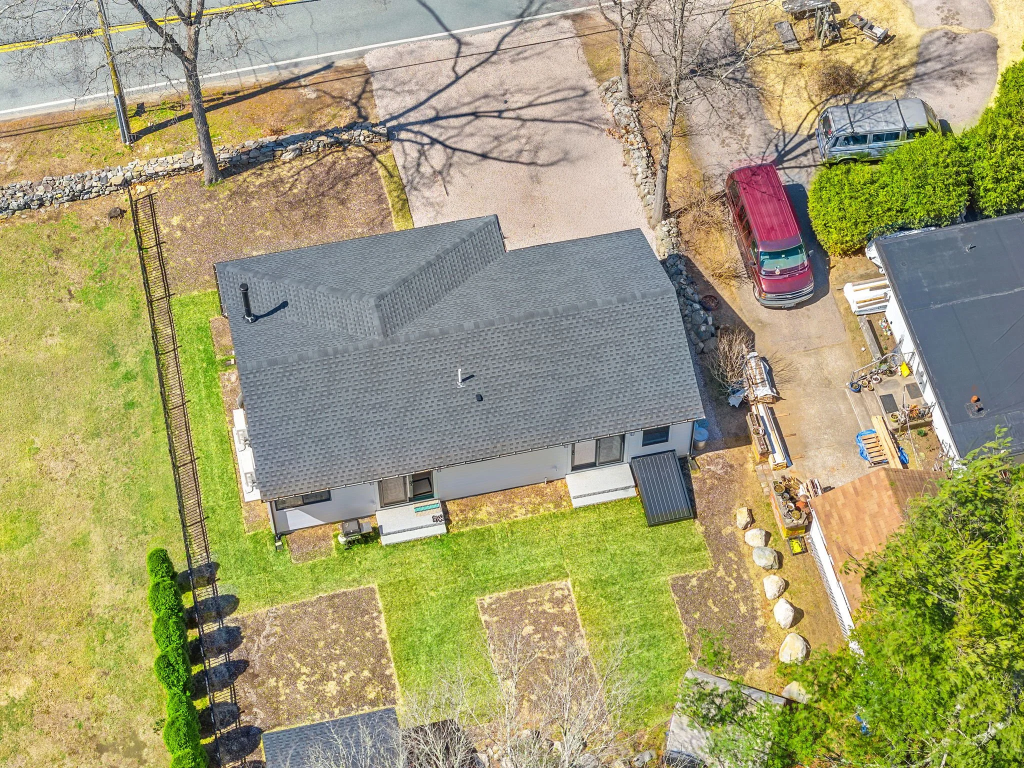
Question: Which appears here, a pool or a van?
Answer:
van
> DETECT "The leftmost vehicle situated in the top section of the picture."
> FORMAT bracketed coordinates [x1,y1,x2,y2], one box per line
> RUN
[722,160,818,309]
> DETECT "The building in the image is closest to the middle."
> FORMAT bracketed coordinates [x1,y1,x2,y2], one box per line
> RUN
[212,212,705,541]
